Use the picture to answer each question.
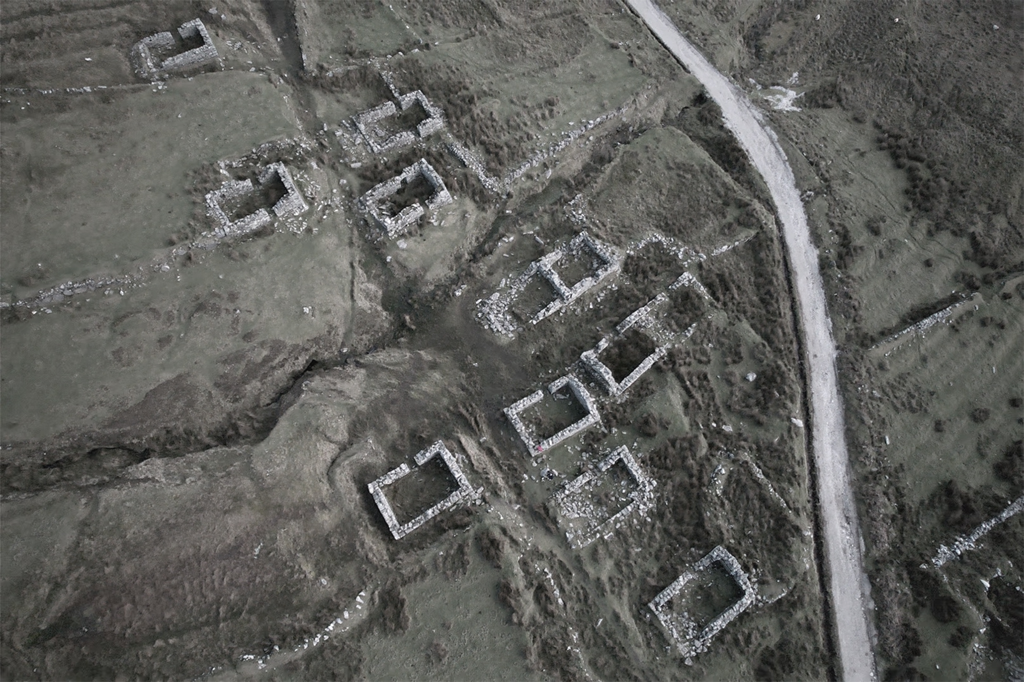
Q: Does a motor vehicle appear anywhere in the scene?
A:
No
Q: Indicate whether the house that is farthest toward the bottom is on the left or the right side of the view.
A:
right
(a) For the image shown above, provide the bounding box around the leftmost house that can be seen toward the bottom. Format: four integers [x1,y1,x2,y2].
[366,439,483,544]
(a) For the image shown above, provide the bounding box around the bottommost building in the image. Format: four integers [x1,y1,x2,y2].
[640,543,766,660]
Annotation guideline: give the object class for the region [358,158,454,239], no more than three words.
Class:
house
